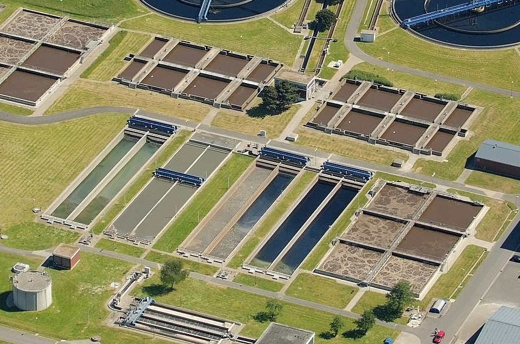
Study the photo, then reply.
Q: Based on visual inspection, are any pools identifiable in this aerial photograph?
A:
No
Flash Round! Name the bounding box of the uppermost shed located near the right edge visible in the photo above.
[473,139,520,177]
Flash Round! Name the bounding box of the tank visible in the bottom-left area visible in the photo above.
[8,269,51,311]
